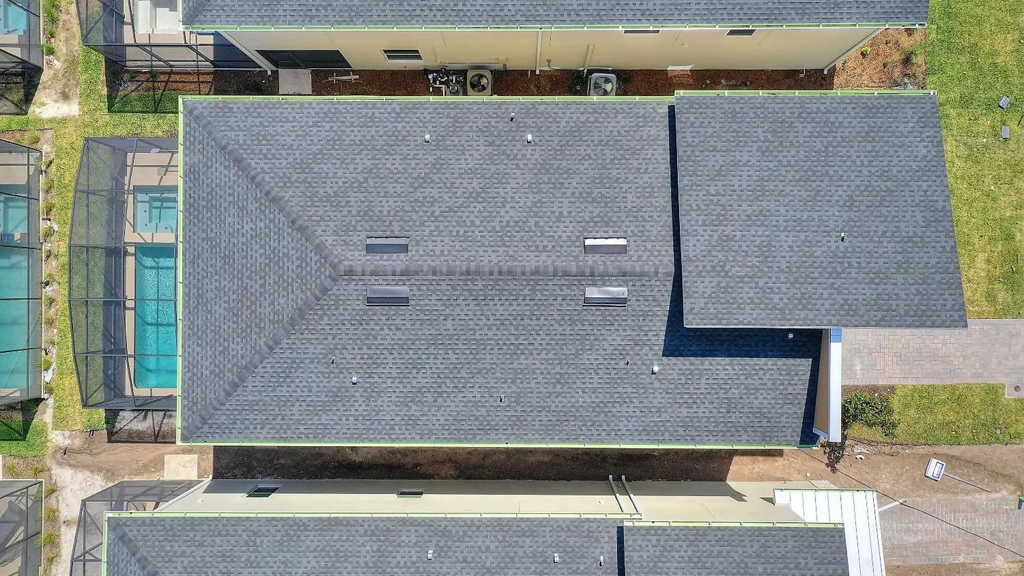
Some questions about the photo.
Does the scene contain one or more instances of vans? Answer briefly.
No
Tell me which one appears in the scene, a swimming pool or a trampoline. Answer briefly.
swimming pool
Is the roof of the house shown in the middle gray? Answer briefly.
Yes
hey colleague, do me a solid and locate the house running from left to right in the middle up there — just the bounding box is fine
[178,90,968,445]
